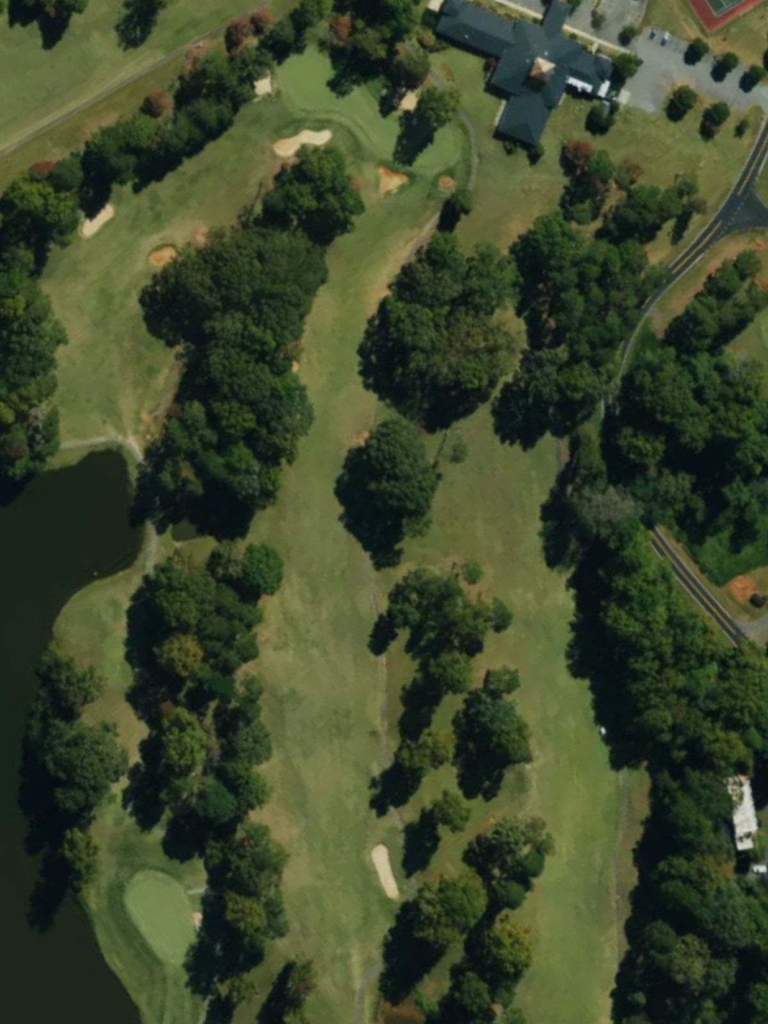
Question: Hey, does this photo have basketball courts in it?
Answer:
No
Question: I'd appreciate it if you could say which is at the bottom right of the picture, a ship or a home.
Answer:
home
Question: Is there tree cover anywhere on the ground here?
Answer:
Yes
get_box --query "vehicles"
[661,31,669,44]
[754,866,766,872]
[649,29,656,40]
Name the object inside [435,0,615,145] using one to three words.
building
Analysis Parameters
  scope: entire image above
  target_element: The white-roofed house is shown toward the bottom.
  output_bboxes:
[731,773,757,851]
